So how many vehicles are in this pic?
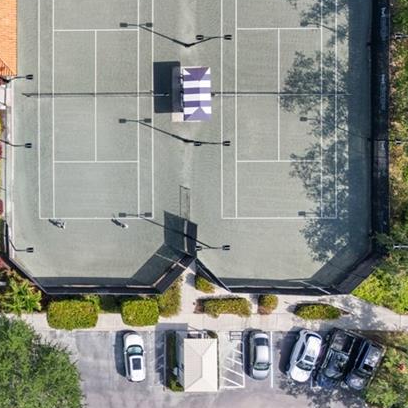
5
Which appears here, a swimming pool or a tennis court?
tennis court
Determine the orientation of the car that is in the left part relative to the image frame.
vertically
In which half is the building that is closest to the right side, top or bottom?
bottom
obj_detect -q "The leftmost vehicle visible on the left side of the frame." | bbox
[123,330,147,382]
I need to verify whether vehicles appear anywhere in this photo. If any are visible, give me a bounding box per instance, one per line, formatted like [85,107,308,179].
[286,327,322,382]
[247,328,273,379]
[343,334,387,392]
[315,328,360,386]
[123,330,147,382]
